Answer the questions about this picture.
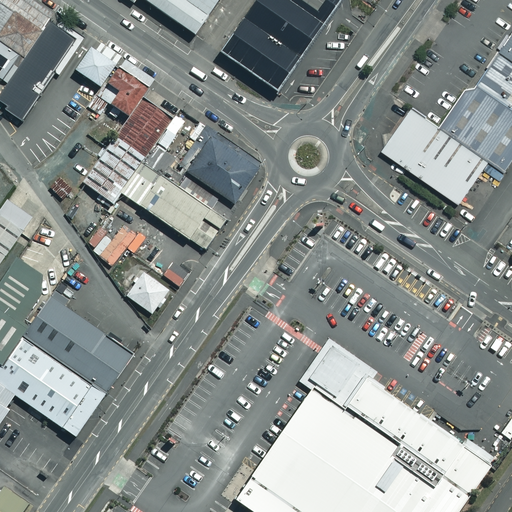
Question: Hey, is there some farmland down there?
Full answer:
No, the picture contains no farmland.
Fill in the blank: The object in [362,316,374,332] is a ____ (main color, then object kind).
red vehicle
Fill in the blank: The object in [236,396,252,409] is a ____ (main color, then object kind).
white vehicle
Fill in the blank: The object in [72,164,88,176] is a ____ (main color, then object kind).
white vehicle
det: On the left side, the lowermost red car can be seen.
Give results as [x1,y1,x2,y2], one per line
[74,271,90,284]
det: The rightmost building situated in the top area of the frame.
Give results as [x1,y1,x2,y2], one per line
[438,30,512,173]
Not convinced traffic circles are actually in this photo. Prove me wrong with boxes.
[288,134,330,178]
